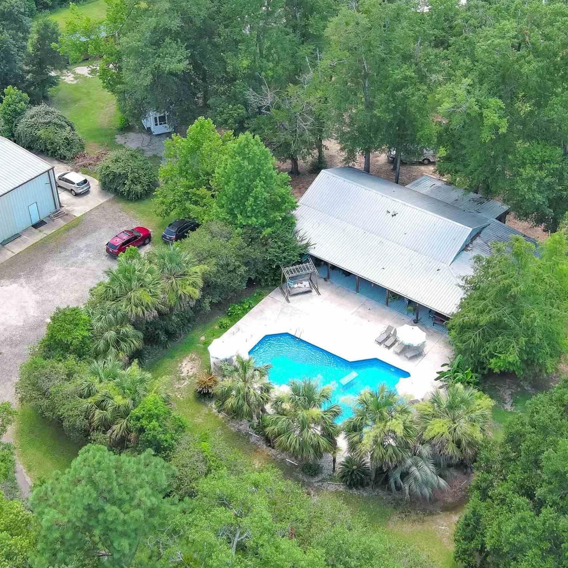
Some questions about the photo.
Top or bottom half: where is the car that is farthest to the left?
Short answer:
top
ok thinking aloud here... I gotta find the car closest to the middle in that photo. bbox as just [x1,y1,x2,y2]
[153,218,204,253]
